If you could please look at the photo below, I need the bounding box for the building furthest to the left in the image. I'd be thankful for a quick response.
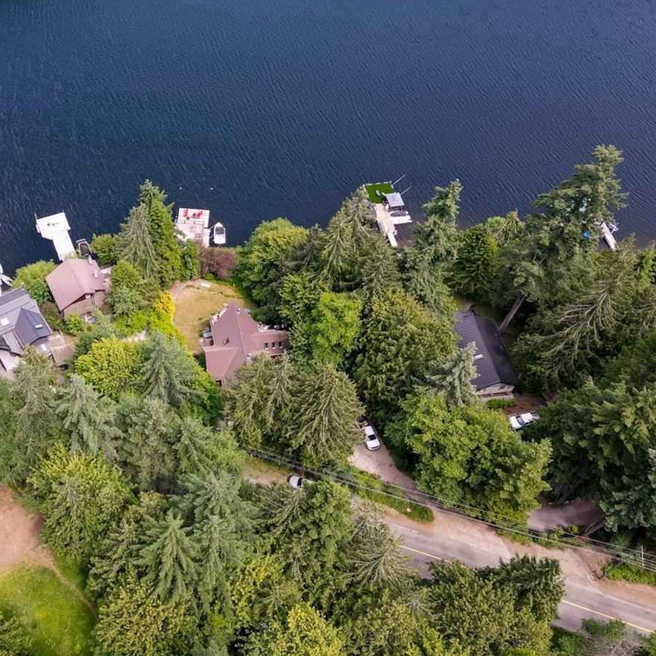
[0,282,59,365]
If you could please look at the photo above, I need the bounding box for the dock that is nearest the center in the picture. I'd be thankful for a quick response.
[364,177,410,246]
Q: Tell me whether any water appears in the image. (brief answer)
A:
Yes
